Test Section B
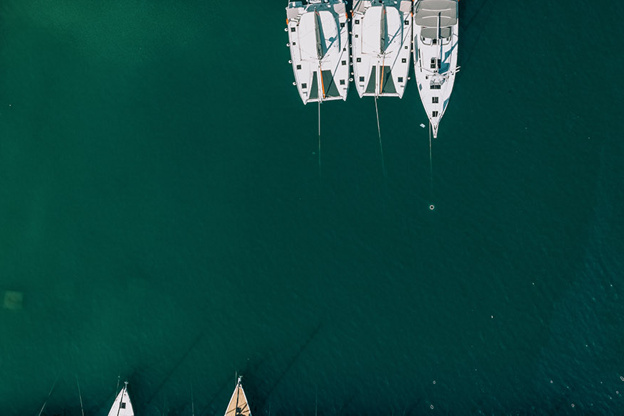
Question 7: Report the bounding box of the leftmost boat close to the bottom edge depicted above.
[111,382,134,416]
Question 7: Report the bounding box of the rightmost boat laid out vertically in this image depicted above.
[413,0,459,180]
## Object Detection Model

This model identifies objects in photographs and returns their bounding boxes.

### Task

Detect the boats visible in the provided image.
[348,0,413,148]
[413,0,459,180]
[111,382,134,416]
[282,0,351,115]
[227,374,252,416]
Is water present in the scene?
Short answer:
Yes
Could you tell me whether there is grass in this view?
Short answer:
No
